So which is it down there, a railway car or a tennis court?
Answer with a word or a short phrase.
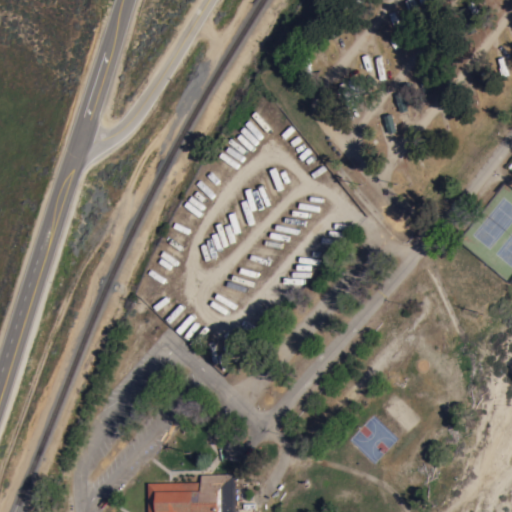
tennis court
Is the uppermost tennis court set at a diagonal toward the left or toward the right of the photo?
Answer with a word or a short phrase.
right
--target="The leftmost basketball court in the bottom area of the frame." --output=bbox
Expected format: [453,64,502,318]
[353,416,398,464]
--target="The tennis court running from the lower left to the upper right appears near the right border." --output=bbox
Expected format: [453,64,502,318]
[459,184,512,262]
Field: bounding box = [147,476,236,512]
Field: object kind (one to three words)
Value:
building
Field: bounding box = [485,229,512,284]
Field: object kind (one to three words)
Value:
tennis court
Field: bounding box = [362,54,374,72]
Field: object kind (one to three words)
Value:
vehicle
